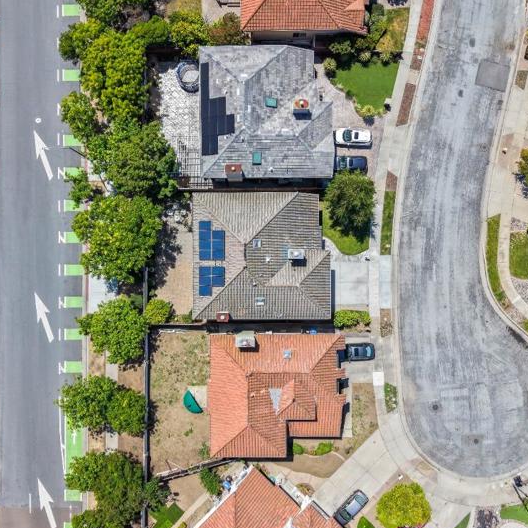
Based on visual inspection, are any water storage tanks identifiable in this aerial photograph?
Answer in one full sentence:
No, I find no water storage tank anywhere in the image.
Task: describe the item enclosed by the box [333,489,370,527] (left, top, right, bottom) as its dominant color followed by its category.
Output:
gray car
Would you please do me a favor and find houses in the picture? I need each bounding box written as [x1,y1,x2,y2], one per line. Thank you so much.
[209,329,346,459]
[194,462,345,528]
[191,190,332,322]
[199,44,334,178]
[240,0,371,40]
